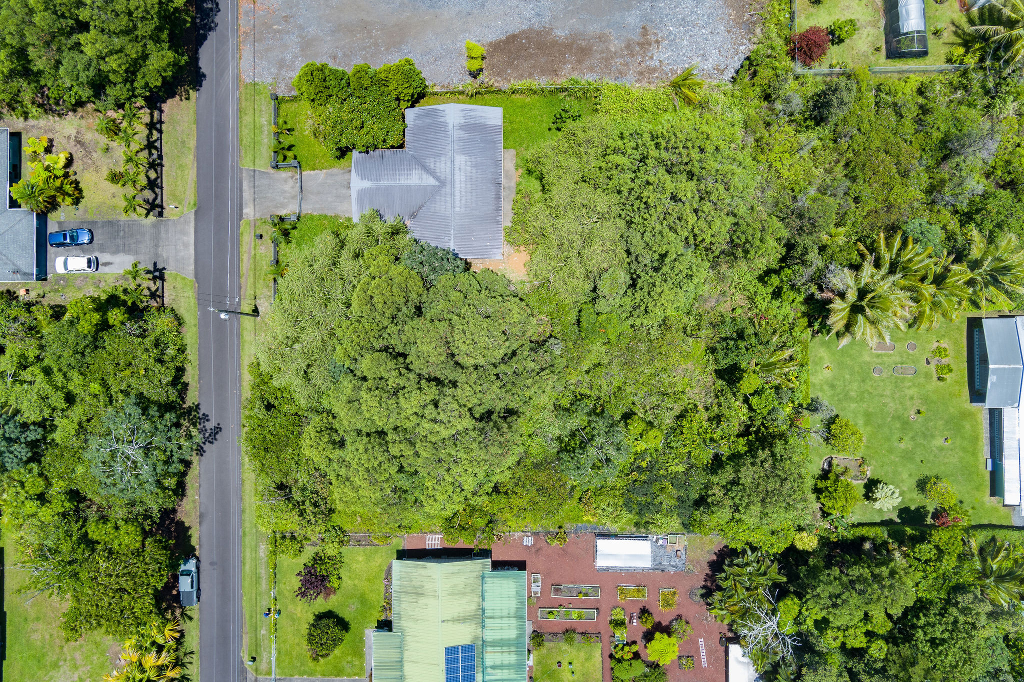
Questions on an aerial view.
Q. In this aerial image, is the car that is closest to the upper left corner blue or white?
blue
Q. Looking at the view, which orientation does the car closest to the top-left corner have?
horizontally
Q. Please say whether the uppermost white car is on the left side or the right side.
left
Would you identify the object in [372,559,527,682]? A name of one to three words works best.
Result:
house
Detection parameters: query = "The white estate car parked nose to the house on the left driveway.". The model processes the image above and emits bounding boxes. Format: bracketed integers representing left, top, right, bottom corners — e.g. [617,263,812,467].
[57,254,101,274]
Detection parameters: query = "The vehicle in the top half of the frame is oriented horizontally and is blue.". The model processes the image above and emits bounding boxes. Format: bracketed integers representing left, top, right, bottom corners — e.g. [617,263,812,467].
[48,226,96,249]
